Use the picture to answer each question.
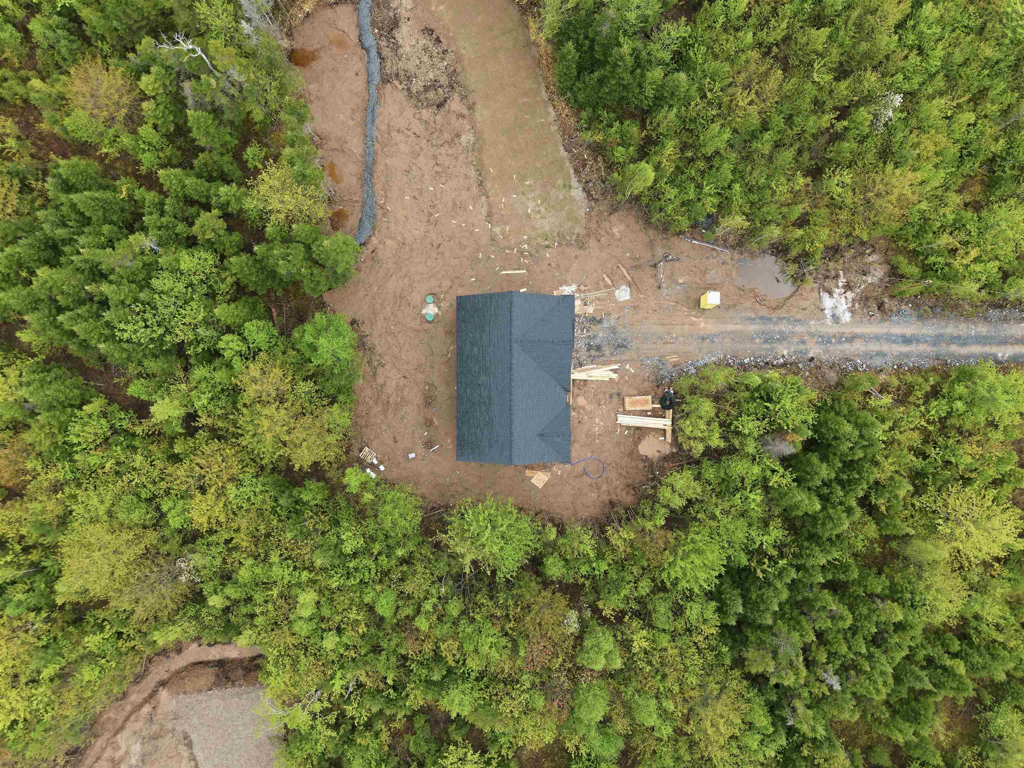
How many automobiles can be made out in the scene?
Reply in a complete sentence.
Not a single automobile can be seen.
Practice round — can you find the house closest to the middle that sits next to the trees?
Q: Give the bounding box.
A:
[456,290,575,465]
